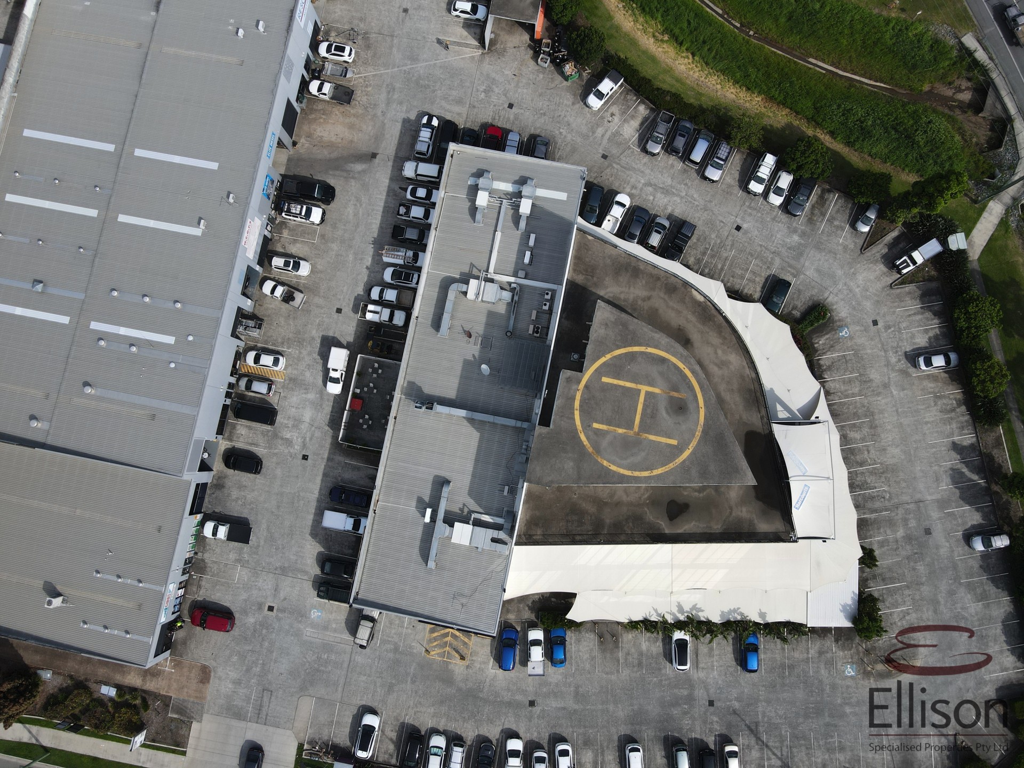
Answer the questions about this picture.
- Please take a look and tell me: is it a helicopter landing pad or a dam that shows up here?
helicopter landing pad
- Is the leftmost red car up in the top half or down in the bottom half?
bottom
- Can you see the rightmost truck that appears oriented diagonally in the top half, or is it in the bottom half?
top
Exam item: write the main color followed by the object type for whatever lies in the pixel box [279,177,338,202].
black truck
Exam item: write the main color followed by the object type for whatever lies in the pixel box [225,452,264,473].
black car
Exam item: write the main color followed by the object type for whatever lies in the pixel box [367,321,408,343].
black trailer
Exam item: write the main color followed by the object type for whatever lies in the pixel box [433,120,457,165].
black vehicle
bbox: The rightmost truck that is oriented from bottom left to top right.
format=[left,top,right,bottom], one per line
[892,235,947,276]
